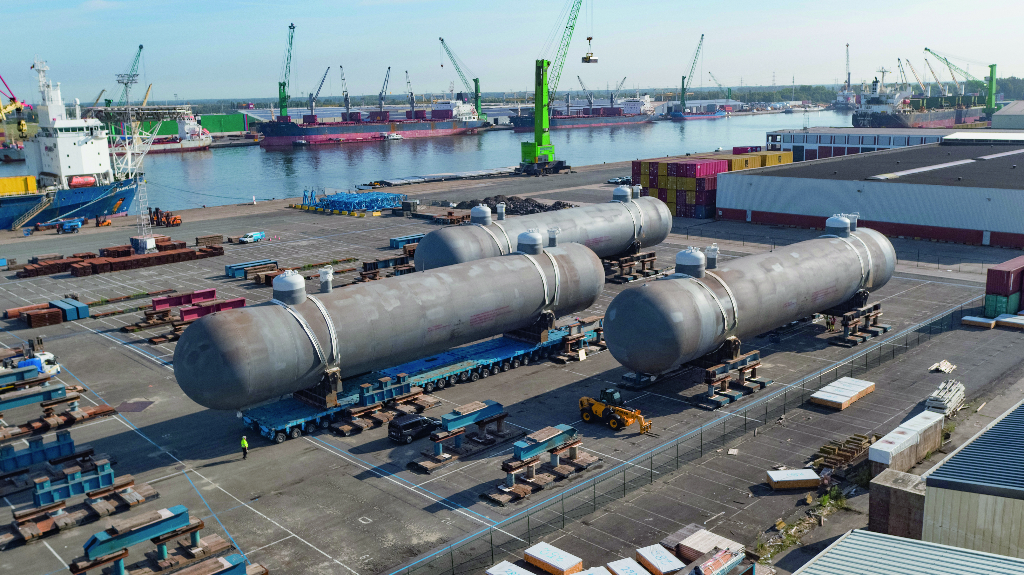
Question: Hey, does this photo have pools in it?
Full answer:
No, no pool can be seen from above.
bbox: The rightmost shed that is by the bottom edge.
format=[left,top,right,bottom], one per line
[921,398,1024,575]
